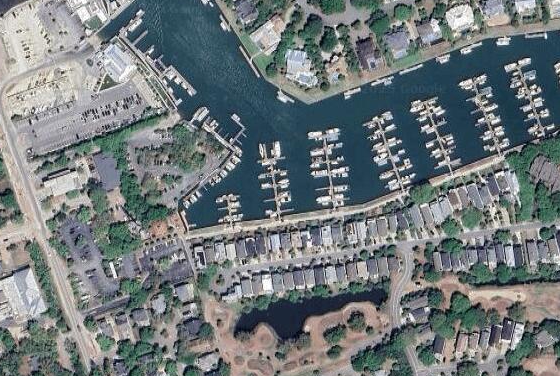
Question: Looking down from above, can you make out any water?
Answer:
Yes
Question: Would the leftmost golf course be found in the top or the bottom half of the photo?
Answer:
bottom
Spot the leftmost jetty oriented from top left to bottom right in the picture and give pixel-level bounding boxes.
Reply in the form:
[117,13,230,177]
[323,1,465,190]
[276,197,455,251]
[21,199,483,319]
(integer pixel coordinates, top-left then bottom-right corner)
[114,15,193,99]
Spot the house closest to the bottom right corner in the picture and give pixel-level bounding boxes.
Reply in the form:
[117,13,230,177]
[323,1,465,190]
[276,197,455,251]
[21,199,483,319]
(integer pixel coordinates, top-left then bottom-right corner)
[533,330,556,354]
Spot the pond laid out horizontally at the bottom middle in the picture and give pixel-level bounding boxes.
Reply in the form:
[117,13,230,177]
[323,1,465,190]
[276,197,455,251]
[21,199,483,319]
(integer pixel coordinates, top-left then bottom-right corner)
[235,288,388,340]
